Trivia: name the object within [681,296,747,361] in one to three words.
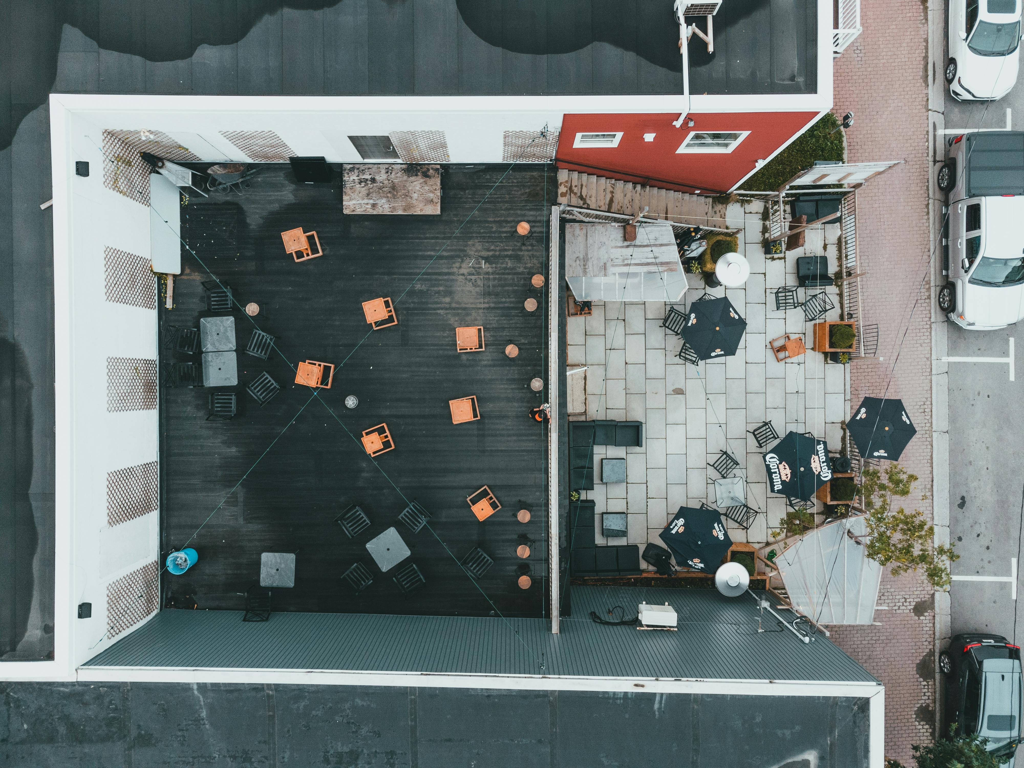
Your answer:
umbrella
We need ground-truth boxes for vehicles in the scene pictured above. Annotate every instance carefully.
[936,130,1024,332]
[938,0,1024,103]
[938,635,1024,768]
